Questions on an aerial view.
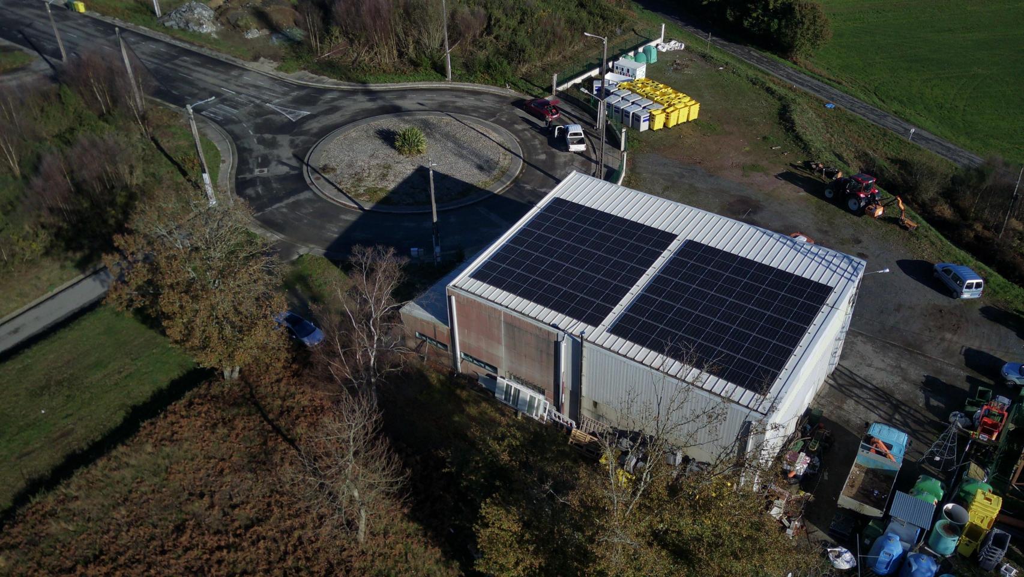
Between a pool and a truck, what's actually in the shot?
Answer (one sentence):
This aerial view contains a truck.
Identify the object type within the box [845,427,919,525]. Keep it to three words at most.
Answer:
truck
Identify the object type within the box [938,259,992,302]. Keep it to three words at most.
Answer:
van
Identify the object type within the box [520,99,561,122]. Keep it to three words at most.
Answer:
car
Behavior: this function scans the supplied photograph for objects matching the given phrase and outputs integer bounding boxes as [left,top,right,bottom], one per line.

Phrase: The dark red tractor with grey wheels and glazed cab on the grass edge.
[827,168,886,212]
